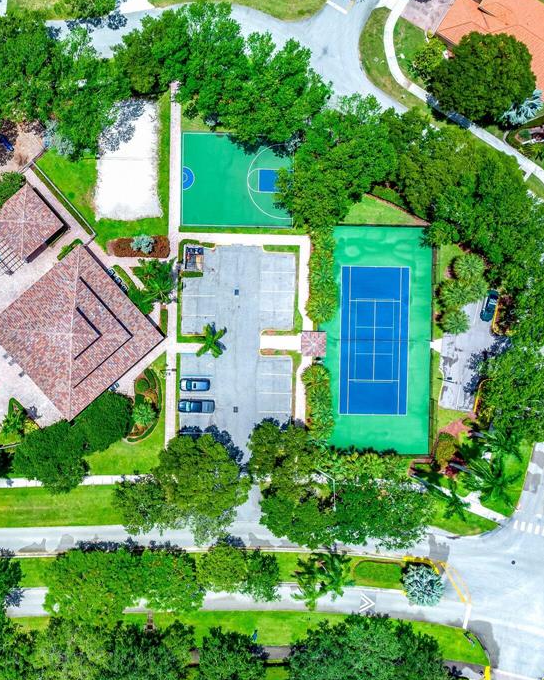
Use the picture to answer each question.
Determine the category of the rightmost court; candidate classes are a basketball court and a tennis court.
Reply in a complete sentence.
Looking closely, the rightmost court is a tennis court.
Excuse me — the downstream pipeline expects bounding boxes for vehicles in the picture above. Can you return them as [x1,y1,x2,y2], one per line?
[477,291,497,320]
[180,378,210,392]
[178,399,215,414]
